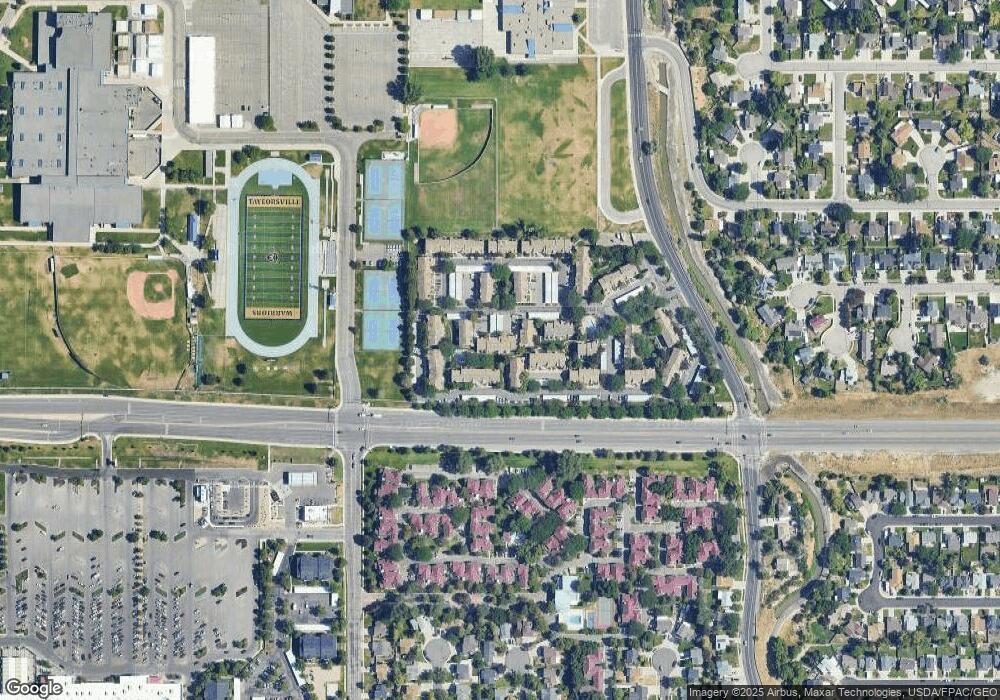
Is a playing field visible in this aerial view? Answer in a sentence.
Yes, this view includes a playing field.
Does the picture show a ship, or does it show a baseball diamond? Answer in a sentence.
The one in the frame is a baseball diamond.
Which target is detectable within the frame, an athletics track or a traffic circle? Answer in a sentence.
I can see an athletics track in this picture.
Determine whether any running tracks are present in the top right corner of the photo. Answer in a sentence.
No, I see no running track in the top right corner of the photo.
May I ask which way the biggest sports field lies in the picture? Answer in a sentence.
From this overhead view, the biggest sports field appears to run vertically.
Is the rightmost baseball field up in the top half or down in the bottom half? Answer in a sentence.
It is in the top half that the rightmost baseball field appears.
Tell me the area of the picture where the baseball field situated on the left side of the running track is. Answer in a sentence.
The baseball field situated on the left side of the running track appears toward the left of the photo.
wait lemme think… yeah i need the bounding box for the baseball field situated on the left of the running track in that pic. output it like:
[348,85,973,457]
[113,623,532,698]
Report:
[127,268,178,318]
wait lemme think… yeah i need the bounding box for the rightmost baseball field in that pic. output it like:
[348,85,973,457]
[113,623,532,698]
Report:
[418,109,457,147]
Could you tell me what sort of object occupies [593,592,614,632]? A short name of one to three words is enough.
sports court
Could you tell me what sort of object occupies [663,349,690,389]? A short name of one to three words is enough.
building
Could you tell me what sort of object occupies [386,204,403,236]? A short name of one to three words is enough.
tennis court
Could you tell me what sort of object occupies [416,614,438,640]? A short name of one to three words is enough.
house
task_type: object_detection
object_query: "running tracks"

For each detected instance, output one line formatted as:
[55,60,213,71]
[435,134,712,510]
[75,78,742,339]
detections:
[227,159,320,358]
